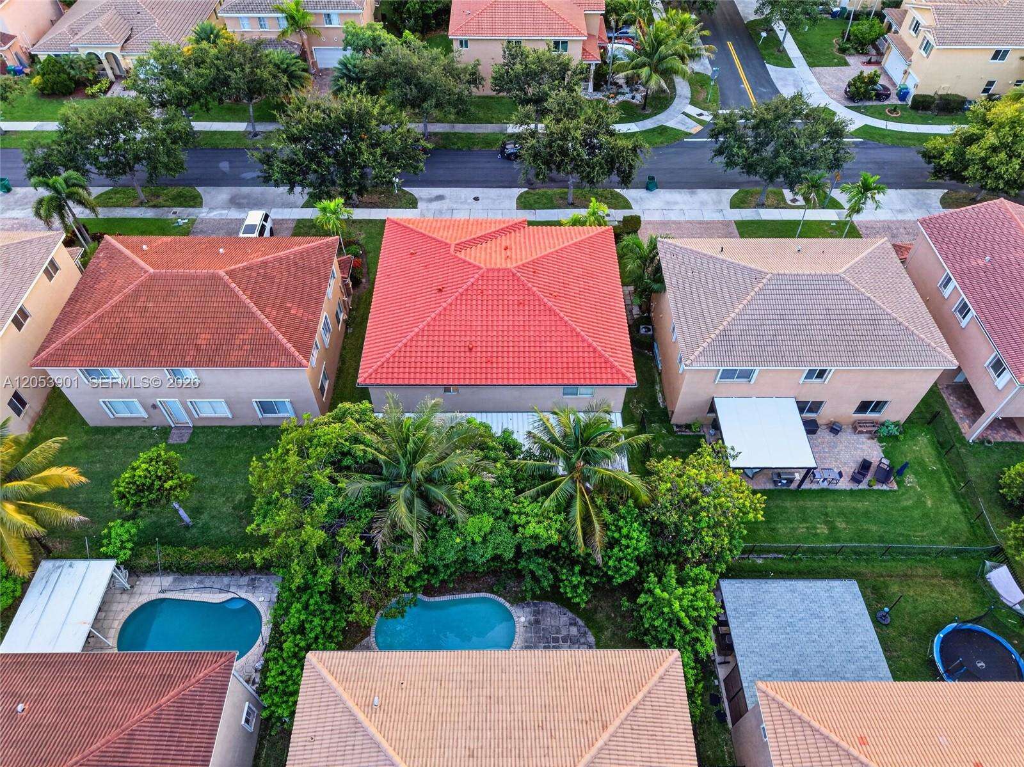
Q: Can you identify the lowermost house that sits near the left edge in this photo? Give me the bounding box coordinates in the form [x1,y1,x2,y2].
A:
[0,649,260,767]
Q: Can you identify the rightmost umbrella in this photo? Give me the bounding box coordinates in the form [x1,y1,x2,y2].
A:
[884,460,912,490]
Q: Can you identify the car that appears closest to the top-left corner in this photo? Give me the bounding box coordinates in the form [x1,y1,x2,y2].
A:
[240,211,273,235]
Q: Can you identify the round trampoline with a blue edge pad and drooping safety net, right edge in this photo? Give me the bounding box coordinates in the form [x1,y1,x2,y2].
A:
[930,607,1024,680]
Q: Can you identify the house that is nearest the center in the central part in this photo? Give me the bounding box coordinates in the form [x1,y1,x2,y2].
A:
[355,216,639,416]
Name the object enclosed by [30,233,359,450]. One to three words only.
house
